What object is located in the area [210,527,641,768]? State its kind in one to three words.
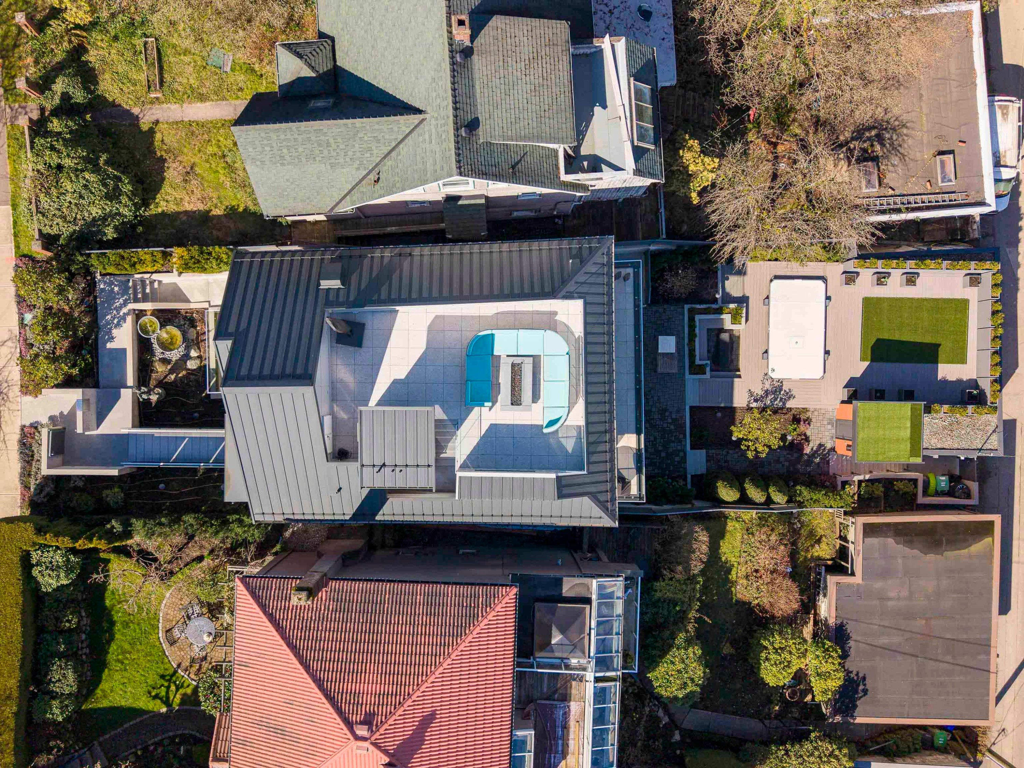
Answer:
house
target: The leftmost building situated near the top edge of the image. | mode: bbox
[231,0,676,239]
